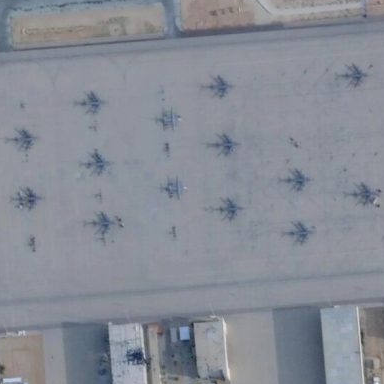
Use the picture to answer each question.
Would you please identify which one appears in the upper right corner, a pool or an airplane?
airplane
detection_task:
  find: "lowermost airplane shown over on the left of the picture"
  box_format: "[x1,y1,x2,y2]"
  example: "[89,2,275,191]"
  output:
[93,213,117,235]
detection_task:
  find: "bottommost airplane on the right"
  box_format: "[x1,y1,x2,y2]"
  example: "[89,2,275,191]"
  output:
[291,222,315,245]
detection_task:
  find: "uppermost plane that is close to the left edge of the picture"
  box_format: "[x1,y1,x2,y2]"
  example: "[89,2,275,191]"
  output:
[16,129,40,150]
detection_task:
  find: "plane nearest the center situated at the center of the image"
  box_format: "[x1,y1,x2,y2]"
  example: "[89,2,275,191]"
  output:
[166,177,183,199]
